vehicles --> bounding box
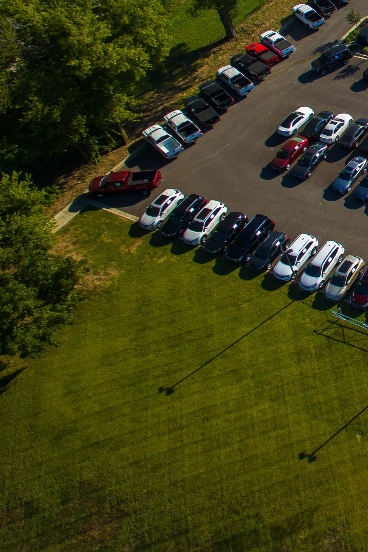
[183,94,223,130]
[317,113,356,147]
[199,79,238,115]
[204,211,249,256]
[182,201,230,246]
[217,66,255,99]
[337,117,368,153]
[306,0,340,19]
[261,30,298,60]
[226,209,279,264]
[272,232,321,285]
[275,107,317,141]
[309,42,355,75]
[298,241,346,294]
[323,254,368,304]
[139,188,187,231]
[162,194,209,238]
[292,3,327,31]
[164,108,205,147]
[271,135,310,174]
[247,39,283,70]
[299,112,337,146]
[145,123,186,163]
[233,53,270,85]
[331,156,368,198]
[249,229,293,274]
[95,172,160,199]
[291,142,331,182]
[357,136,368,159]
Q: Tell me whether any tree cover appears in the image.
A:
Yes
